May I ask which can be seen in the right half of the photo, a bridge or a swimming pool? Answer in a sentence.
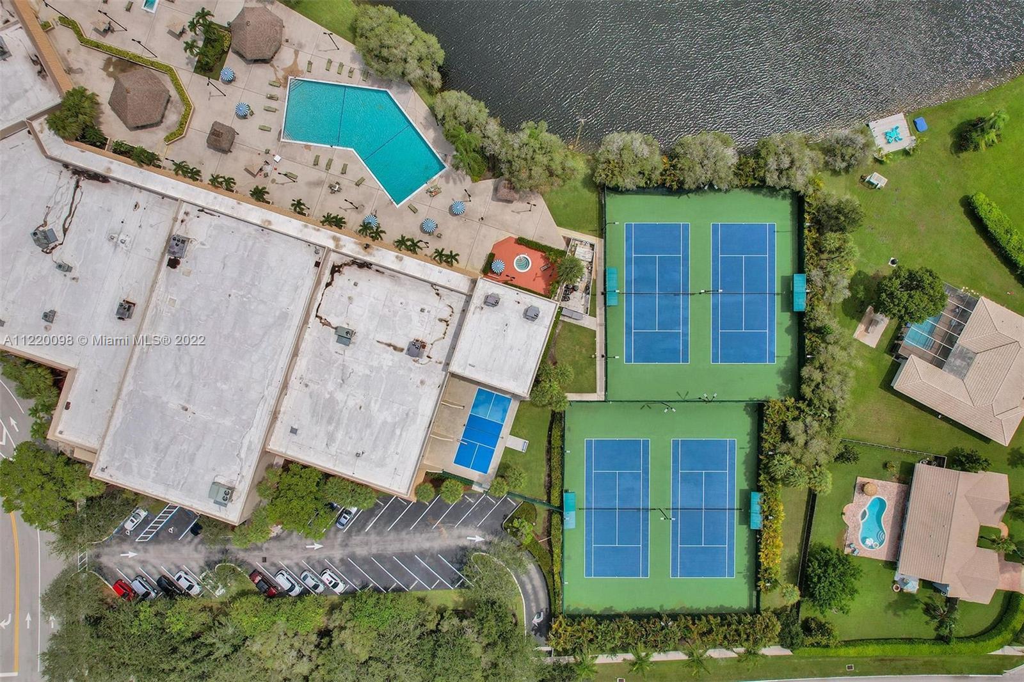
Visible in the right half of the photo is a swimming pool.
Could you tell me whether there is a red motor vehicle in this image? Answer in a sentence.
Yes, the photo shows a red motor vehicle.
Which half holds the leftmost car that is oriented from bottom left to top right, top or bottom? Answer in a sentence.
The leftmost car that is oriented from bottom left to top right is in the bottom half of the image.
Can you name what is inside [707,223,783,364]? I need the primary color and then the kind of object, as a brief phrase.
blue tennis court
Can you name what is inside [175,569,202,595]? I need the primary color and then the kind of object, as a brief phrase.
white car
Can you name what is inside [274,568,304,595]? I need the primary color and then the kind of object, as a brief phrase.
white car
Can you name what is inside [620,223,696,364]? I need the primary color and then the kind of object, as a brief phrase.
blue tennis court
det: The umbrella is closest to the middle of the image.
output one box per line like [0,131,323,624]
[491,259,505,273]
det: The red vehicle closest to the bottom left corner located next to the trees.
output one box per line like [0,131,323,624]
[115,578,138,602]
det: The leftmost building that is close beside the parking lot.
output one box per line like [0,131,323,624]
[0,0,560,528]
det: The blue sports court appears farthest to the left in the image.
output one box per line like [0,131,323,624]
[453,387,512,474]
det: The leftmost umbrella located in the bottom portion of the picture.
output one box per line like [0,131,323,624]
[861,481,876,495]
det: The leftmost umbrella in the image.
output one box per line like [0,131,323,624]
[92,15,111,34]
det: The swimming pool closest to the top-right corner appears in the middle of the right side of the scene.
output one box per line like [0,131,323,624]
[903,304,949,352]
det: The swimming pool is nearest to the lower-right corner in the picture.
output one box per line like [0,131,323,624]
[858,495,889,552]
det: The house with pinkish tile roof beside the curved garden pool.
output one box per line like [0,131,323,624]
[892,463,1010,604]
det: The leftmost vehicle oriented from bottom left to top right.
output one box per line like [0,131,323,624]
[124,506,149,534]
